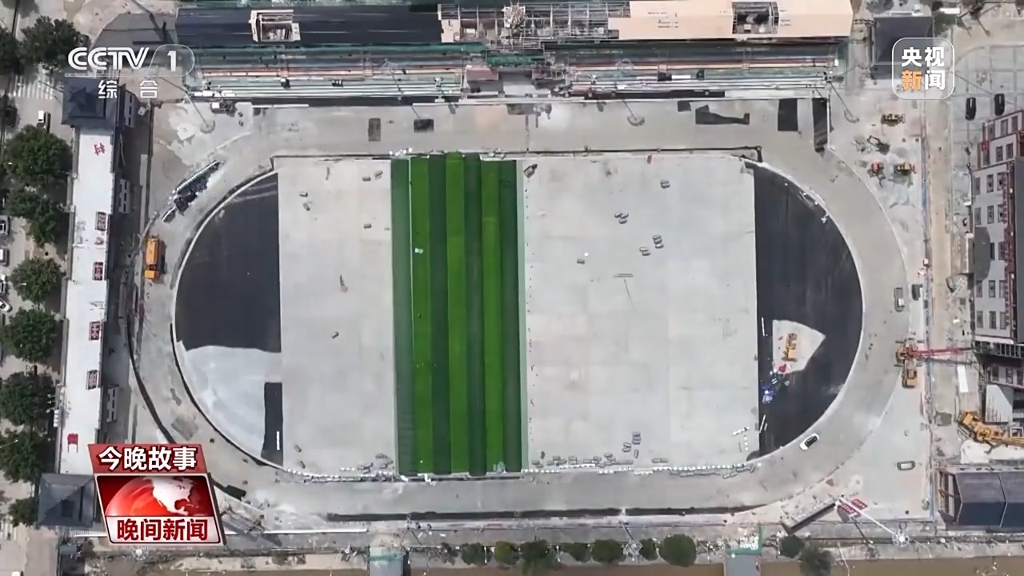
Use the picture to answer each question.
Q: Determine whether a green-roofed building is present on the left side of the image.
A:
No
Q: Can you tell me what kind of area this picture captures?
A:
sports ground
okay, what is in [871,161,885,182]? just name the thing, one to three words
work vehicle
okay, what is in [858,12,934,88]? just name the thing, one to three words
house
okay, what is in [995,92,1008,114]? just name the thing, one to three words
vehicle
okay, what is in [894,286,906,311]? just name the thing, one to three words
vehicle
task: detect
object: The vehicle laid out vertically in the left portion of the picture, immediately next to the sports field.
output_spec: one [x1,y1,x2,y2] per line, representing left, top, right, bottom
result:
[142,234,160,277]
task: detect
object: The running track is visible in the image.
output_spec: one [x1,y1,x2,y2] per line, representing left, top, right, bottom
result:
[129,98,908,522]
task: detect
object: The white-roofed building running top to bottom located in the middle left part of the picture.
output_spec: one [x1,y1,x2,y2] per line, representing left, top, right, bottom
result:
[52,92,141,475]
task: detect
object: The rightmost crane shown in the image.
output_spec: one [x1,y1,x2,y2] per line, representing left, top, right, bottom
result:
[962,413,1024,445]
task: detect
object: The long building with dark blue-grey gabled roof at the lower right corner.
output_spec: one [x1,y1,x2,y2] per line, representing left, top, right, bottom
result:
[920,465,1024,527]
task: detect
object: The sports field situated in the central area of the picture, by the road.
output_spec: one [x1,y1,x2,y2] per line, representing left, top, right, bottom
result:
[175,152,862,476]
